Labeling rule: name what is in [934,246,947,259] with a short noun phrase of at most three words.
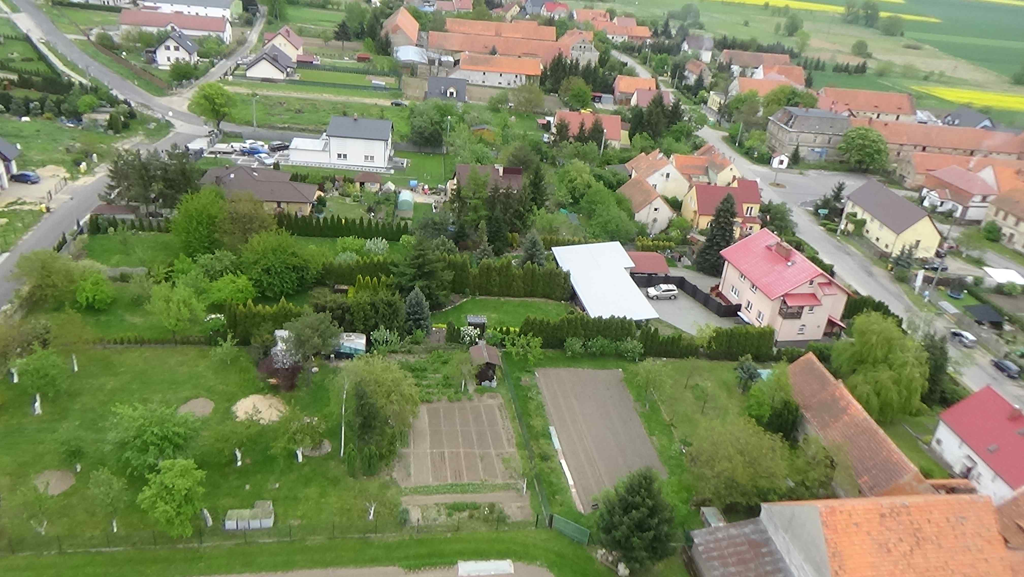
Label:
vehicle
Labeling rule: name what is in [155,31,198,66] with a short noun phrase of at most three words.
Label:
house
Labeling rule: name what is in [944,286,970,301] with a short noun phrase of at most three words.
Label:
trampoline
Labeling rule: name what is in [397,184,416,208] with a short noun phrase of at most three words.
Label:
greenhouse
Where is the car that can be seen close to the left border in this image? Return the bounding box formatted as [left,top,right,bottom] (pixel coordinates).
[11,172,42,186]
